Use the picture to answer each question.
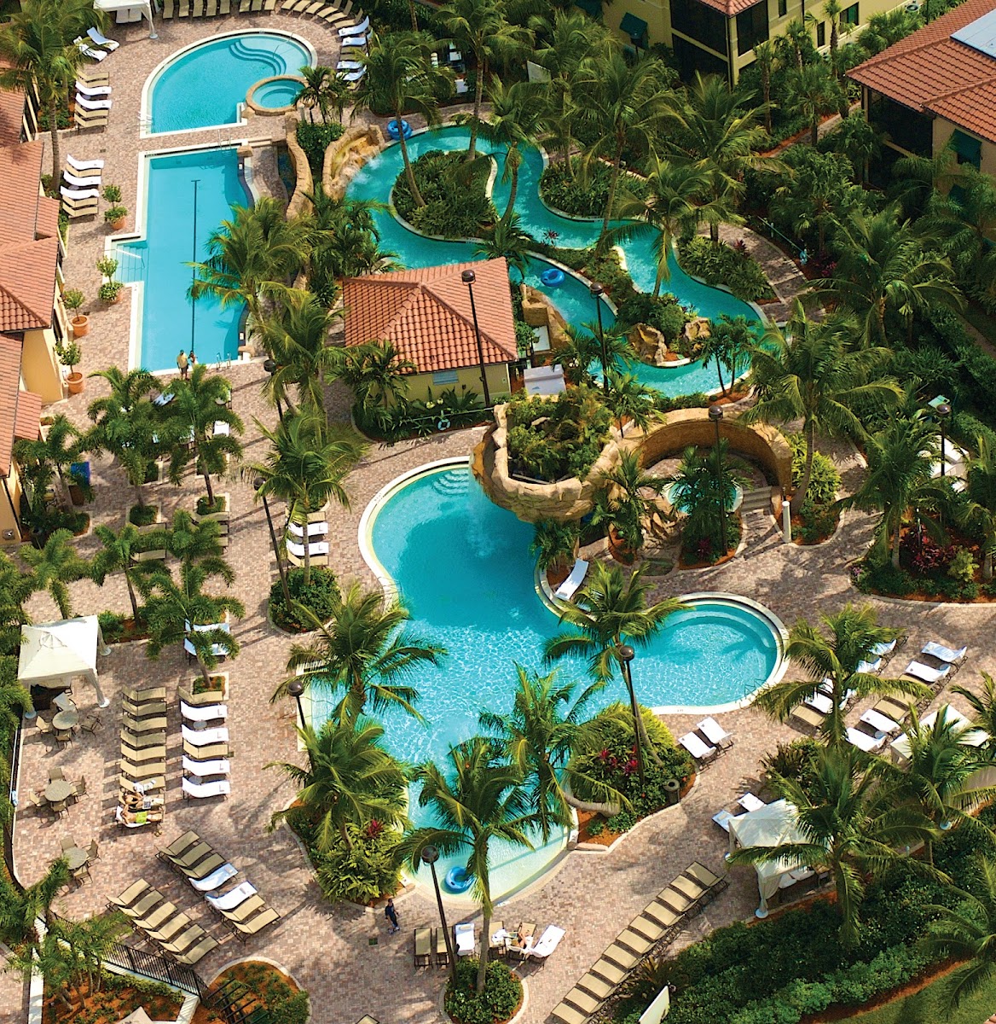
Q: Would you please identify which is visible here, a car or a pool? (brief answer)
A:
pool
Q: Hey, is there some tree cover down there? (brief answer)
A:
Yes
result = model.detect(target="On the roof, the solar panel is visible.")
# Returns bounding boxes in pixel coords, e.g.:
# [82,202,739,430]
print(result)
[950,10,996,61]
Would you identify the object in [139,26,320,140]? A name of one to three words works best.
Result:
swimming pool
